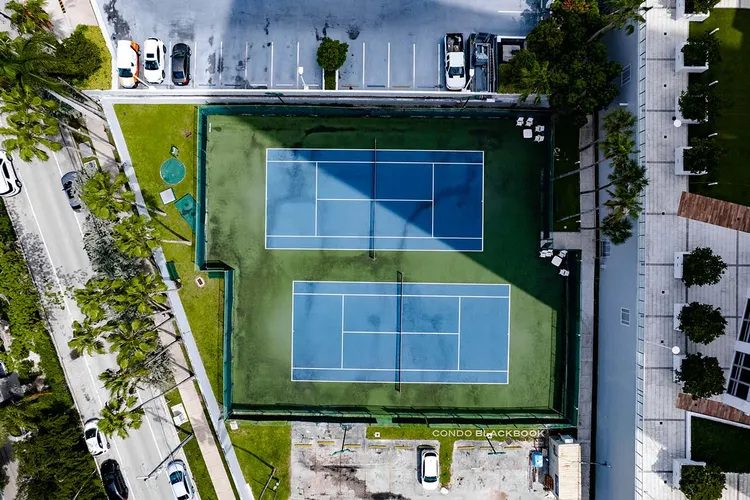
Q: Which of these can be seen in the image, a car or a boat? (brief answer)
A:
car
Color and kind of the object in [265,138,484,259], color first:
blue tennis court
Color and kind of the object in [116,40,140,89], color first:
white car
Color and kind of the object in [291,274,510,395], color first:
blue tennis court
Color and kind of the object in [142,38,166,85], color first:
white car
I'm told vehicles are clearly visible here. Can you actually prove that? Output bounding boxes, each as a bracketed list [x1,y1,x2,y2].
[116,40,140,89]
[82,415,112,457]
[444,34,466,92]
[467,32,495,92]
[100,460,131,500]
[168,460,197,500]
[419,444,439,488]
[142,38,166,85]
[169,45,191,87]
[59,170,88,213]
